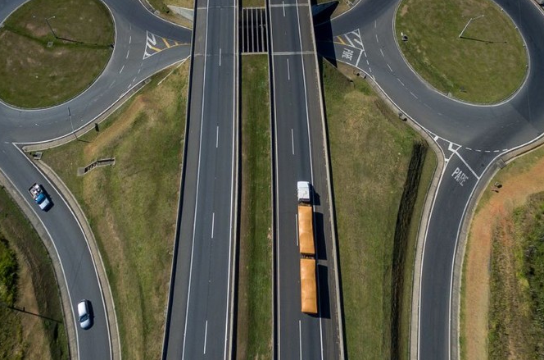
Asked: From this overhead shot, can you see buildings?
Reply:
No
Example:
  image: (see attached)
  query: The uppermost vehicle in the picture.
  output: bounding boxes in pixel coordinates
[29,182,48,209]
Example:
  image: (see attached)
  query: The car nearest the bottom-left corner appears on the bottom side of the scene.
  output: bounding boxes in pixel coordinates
[76,296,90,330]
